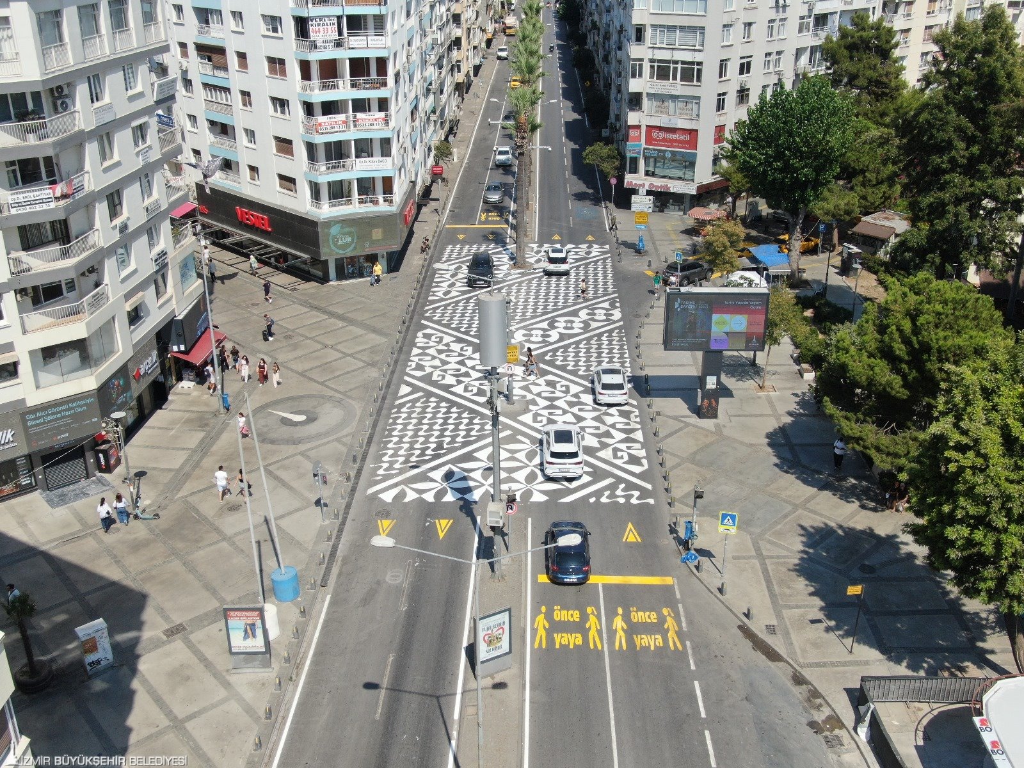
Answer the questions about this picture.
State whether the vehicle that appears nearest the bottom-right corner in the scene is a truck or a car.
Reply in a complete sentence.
The vehicle that appears nearest the bottom-right corner is a car.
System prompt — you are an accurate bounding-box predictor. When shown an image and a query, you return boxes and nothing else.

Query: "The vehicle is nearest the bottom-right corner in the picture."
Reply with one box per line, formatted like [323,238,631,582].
[541,512,593,580]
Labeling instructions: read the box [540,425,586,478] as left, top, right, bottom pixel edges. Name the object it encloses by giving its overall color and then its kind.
white car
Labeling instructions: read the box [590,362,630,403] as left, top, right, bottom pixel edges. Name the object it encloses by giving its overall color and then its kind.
white car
